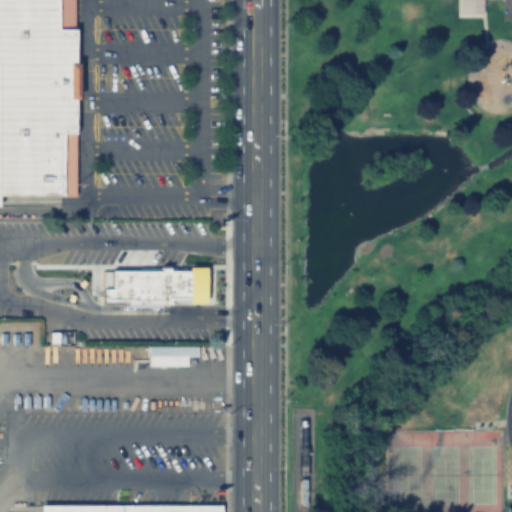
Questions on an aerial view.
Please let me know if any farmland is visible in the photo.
No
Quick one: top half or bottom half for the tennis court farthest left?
bottom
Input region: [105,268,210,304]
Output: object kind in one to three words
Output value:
building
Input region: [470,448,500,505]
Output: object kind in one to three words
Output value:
tennis court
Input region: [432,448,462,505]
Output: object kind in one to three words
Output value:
tennis court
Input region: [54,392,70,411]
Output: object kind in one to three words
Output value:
vehicle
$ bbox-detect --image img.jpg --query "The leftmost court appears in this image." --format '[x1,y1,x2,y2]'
[394,448,424,505]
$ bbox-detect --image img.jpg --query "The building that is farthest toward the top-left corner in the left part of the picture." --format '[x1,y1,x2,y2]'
[0,0,83,208]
